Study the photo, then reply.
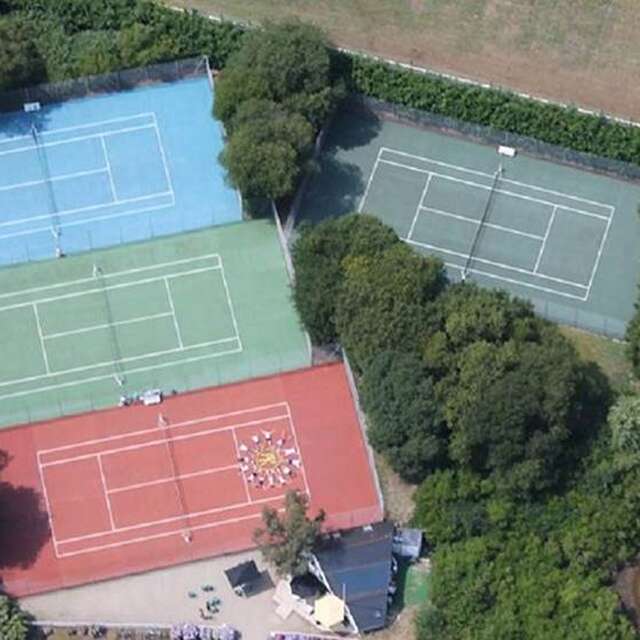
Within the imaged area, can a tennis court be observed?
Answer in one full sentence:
Yes, there's a tennis court down there.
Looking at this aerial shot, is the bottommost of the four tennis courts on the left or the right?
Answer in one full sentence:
The bottommost of the four tennis courts is on the left side of the image.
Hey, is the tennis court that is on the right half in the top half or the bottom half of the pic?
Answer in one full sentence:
It is in the top half that the tennis court that is on the right half appears.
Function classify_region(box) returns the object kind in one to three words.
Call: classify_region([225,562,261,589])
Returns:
umbrella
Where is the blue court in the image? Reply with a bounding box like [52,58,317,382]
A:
[0,81,242,266]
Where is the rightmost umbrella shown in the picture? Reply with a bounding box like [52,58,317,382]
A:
[314,595,345,628]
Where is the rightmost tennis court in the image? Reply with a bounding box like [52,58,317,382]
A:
[288,107,640,340]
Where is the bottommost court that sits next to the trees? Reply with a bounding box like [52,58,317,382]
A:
[0,361,382,595]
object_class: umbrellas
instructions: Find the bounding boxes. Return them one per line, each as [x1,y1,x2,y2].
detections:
[286,573,321,603]
[225,562,261,589]
[314,595,345,628]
